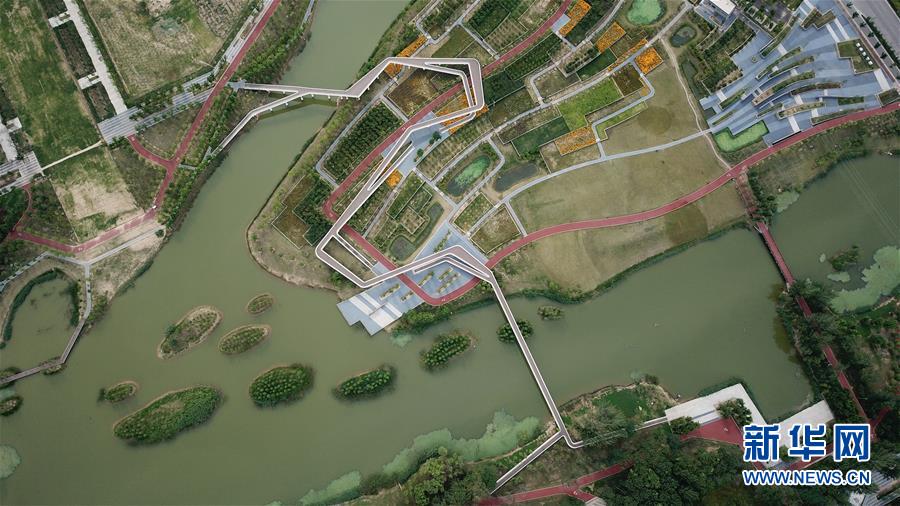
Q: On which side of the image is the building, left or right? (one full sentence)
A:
It is on the right.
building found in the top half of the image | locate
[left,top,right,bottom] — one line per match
[694,0,739,33]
